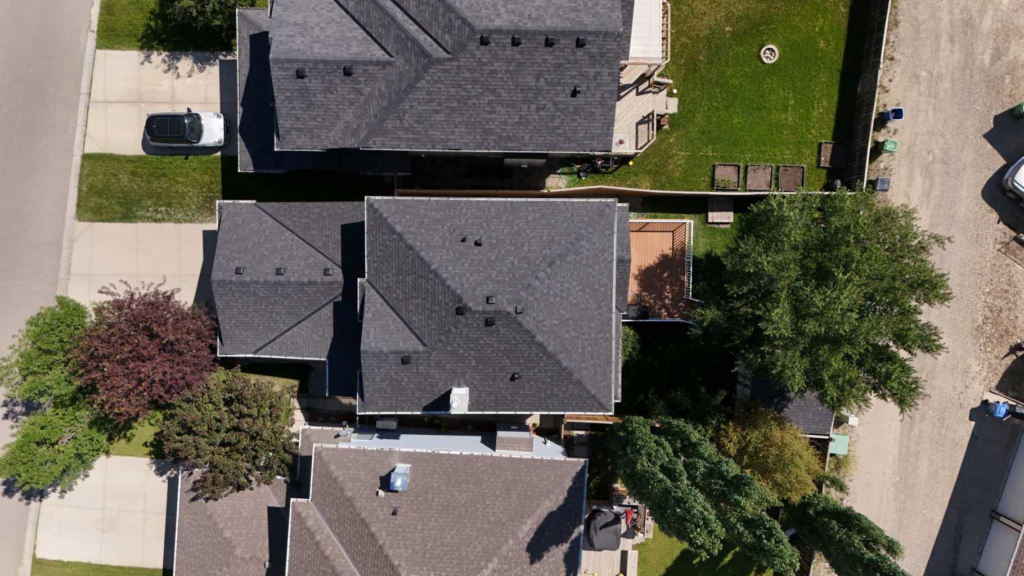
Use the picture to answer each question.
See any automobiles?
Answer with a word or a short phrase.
Yes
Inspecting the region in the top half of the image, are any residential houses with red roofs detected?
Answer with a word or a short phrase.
No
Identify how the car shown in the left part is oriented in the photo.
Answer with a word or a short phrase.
from side to side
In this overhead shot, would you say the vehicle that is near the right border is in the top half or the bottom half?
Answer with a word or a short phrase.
top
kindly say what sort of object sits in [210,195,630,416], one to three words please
house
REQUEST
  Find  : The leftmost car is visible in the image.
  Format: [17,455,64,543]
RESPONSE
[142,105,229,148]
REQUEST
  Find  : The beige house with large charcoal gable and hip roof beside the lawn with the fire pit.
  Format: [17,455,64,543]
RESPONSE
[236,0,635,176]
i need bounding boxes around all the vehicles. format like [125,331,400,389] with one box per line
[997,158,1024,210]
[142,105,229,148]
